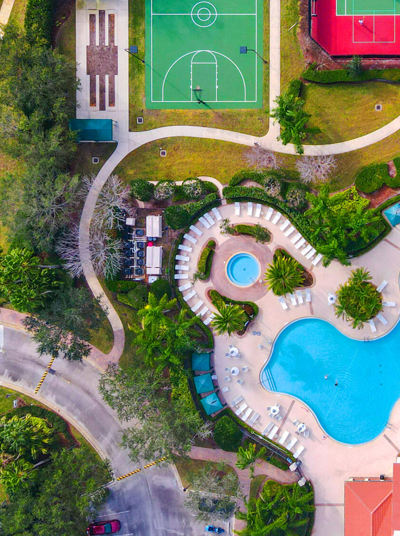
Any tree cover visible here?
Yes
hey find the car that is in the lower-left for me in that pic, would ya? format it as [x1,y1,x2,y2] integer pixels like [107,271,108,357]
[87,516,122,536]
